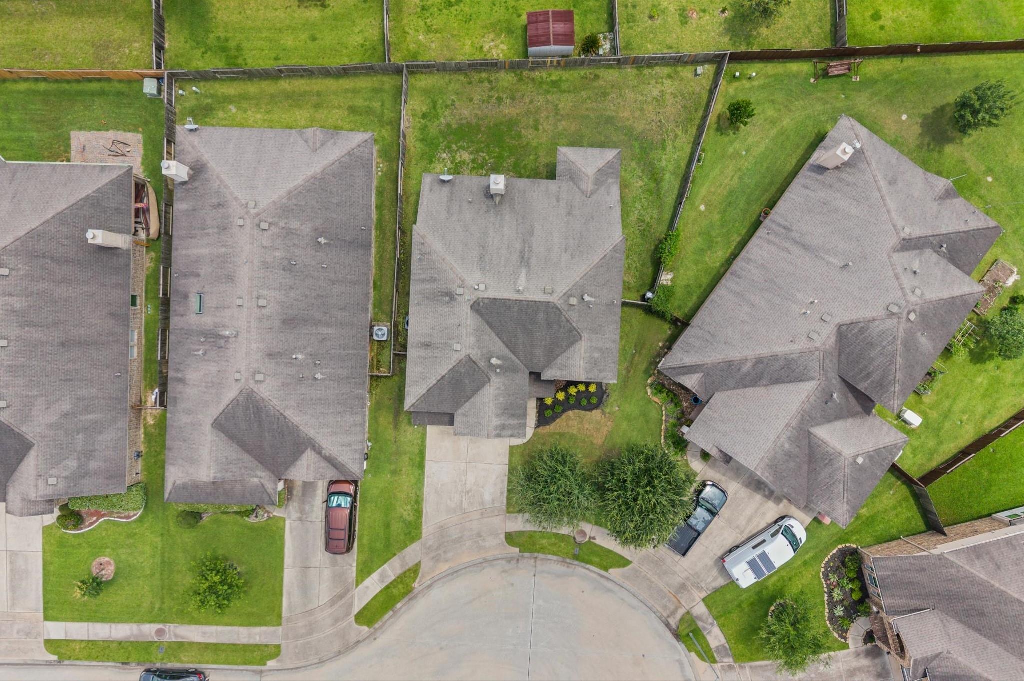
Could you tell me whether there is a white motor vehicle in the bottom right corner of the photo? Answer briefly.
Yes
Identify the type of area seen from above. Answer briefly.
residential area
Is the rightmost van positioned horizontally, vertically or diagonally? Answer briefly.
diagonally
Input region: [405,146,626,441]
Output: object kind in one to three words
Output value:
house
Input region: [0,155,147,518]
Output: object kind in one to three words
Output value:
house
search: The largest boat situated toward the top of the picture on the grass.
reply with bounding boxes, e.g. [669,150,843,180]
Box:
[145,181,160,240]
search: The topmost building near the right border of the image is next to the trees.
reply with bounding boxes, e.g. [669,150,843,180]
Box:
[657,115,1003,529]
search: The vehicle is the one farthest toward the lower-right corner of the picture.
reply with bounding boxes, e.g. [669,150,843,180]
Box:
[720,513,808,589]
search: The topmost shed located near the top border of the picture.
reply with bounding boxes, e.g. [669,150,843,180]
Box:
[522,7,575,58]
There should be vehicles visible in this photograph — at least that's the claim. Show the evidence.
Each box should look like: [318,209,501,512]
[141,667,206,681]
[660,478,727,560]
[320,480,358,554]
[720,513,808,589]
